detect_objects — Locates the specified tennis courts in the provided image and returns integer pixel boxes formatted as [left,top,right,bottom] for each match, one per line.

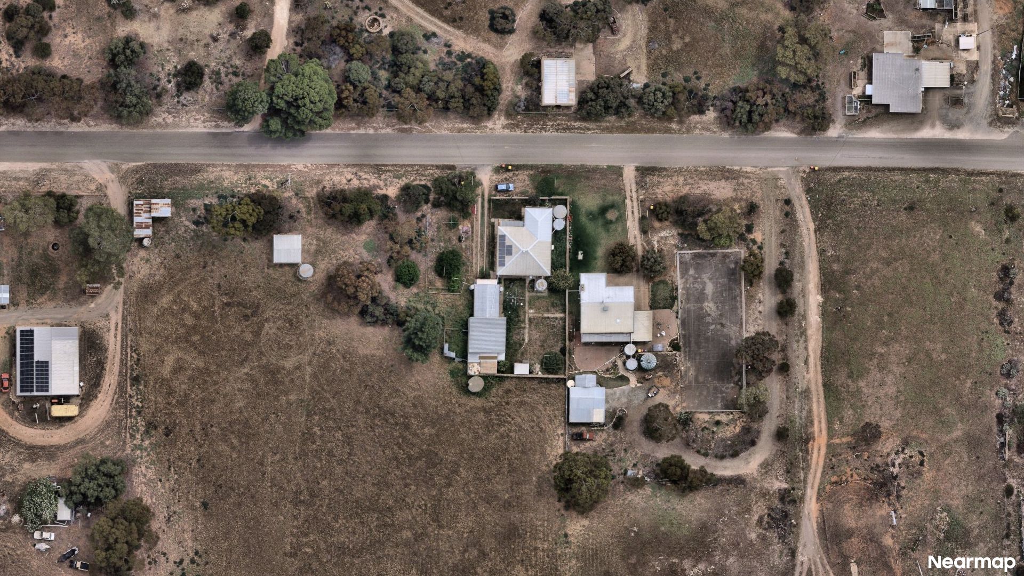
[678,251,744,411]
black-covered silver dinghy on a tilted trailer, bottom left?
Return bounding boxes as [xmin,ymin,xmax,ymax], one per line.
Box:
[56,547,78,565]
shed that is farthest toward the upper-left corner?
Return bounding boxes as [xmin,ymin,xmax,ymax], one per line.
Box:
[133,199,170,237]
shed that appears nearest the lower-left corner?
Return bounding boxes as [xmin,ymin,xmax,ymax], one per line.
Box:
[56,497,70,521]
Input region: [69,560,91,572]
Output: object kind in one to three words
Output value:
vehicle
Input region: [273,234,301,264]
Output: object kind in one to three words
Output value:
shed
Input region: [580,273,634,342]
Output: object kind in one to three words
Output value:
house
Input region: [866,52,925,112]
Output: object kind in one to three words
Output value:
house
